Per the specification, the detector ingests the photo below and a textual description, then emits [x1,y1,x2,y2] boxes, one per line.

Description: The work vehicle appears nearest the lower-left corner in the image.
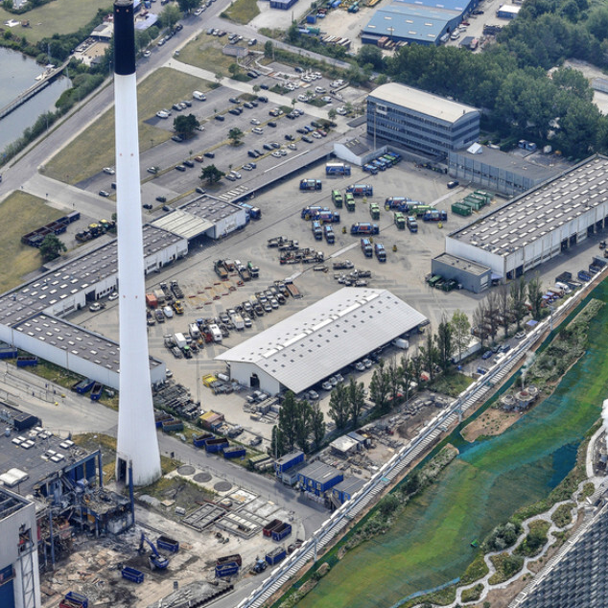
[142,525,170,569]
